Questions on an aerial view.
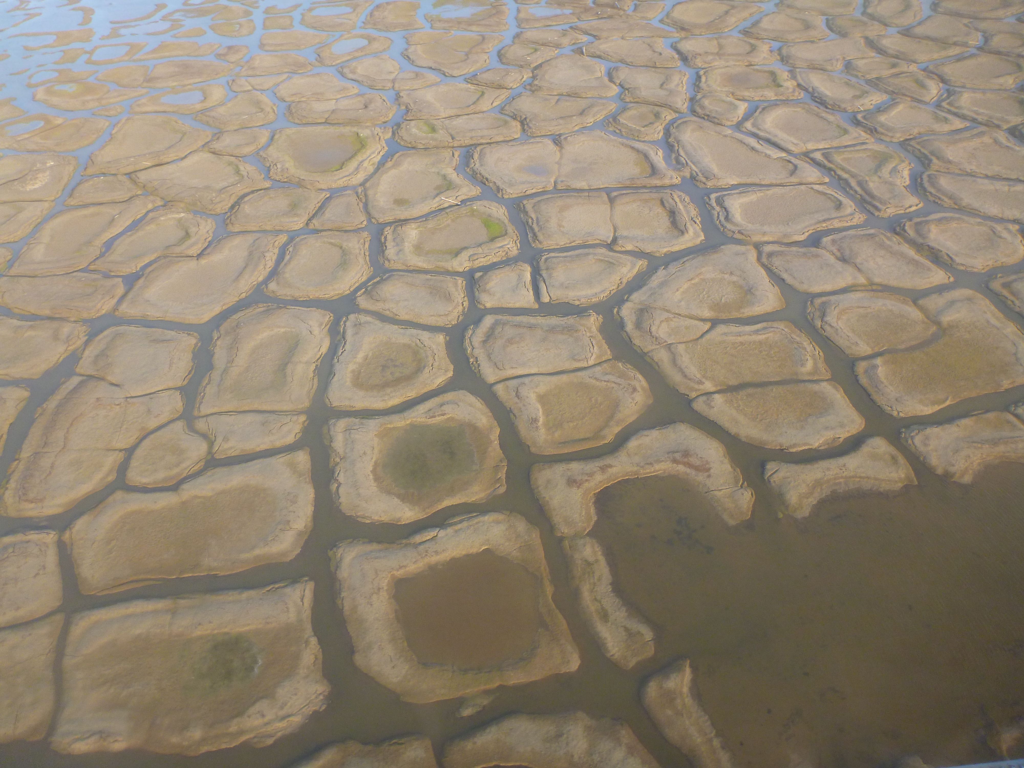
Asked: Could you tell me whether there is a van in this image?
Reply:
No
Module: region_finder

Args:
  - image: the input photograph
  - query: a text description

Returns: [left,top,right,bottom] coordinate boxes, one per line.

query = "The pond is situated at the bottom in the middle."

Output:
[402,556,549,668]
